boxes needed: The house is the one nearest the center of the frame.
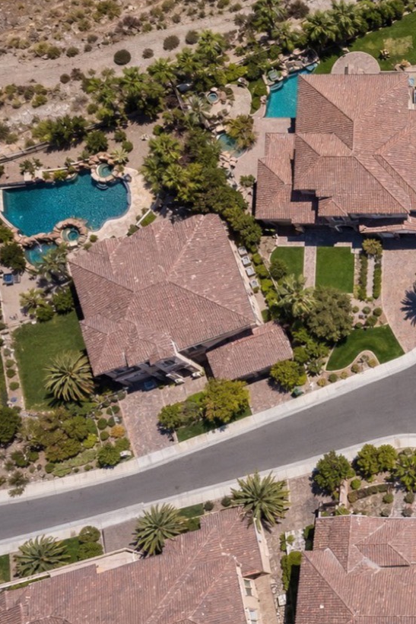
[67,213,295,384]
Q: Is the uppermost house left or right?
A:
right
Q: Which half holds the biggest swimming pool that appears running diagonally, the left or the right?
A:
right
